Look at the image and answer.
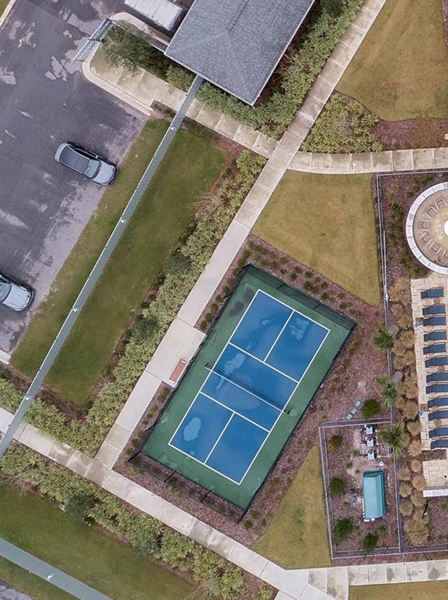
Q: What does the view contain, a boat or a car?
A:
car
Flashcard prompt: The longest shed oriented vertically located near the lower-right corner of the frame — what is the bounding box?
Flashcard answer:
[360,475,383,524]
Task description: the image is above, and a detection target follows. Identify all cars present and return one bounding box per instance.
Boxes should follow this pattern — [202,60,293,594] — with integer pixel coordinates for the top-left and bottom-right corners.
[0,270,33,311]
[47,141,116,188]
